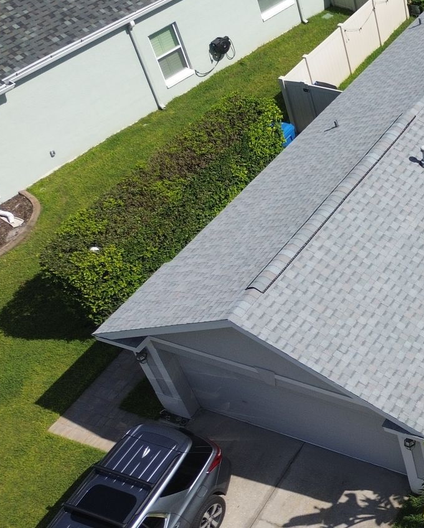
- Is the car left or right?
left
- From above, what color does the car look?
black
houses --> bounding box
[96,9,424,498]
[0,0,329,203]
